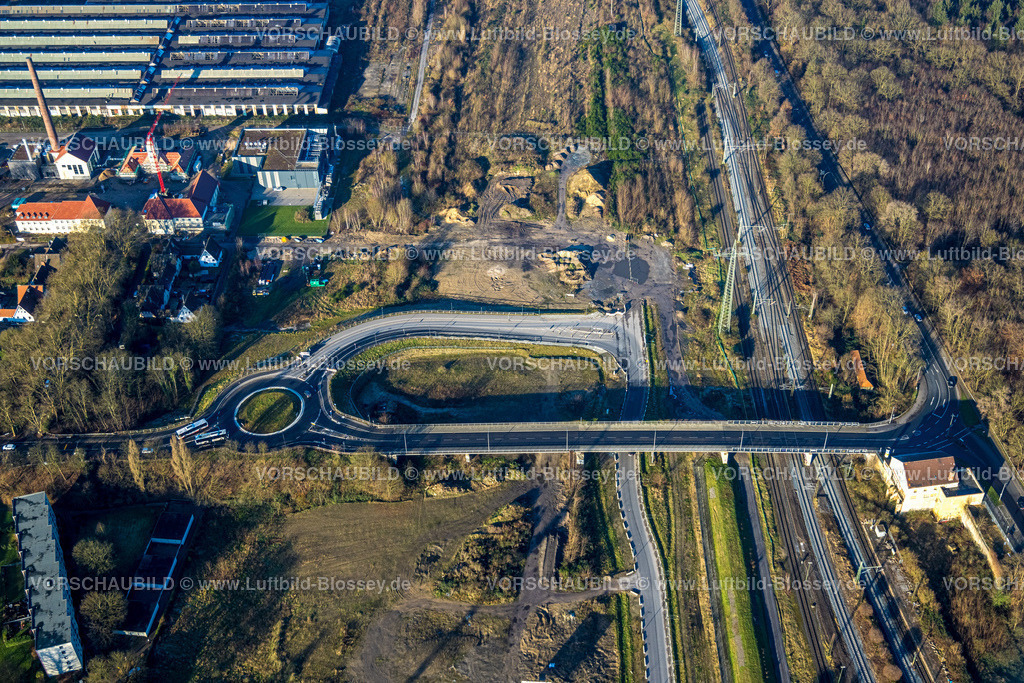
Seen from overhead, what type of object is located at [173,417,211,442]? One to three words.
bus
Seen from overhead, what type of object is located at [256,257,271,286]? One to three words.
vehicle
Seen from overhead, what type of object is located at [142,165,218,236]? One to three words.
house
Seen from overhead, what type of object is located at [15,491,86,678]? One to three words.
building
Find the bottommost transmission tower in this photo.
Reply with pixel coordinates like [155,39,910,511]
[717,249,754,335]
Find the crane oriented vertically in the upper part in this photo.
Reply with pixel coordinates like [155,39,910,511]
[143,73,182,199]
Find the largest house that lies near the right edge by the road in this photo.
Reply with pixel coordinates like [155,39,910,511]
[889,451,989,522]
